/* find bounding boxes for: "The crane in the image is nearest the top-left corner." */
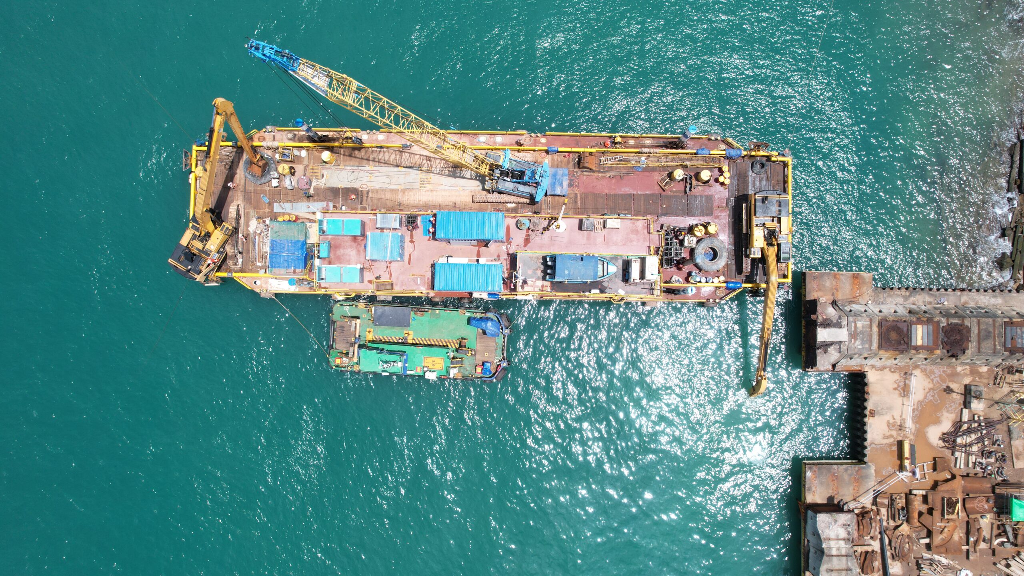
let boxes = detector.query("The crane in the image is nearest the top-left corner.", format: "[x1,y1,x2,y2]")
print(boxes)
[241,38,546,205]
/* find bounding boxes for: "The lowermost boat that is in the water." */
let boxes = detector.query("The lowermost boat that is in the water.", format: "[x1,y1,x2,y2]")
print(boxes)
[326,299,513,387]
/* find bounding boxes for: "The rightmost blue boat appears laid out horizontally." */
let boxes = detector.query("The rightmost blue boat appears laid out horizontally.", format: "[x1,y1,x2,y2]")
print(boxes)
[546,255,621,284]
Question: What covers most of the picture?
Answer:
water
